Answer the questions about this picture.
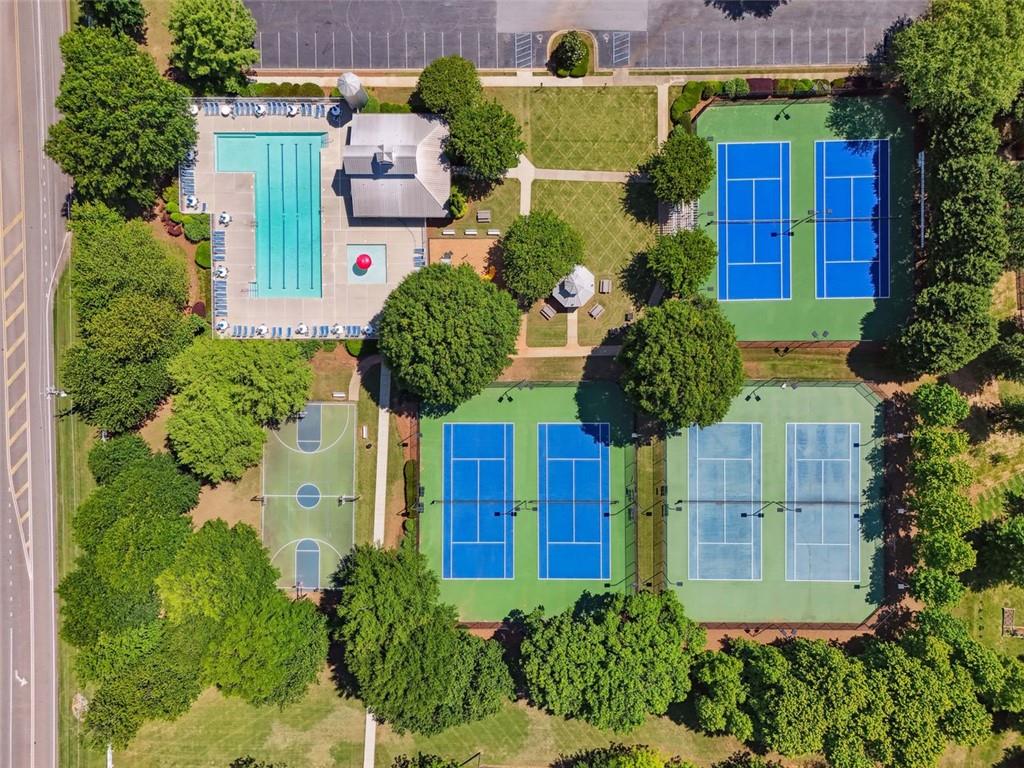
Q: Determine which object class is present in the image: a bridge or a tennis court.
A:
tennis court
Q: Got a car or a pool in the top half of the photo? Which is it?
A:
pool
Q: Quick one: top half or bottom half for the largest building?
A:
top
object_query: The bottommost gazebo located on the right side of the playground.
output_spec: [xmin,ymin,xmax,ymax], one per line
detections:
[553,265,595,307]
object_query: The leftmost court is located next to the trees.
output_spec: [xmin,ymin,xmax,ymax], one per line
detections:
[262,402,357,590]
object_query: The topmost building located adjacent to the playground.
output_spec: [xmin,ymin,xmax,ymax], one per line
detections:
[344,113,450,218]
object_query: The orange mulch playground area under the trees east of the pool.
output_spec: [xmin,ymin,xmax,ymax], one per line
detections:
[429,238,512,291]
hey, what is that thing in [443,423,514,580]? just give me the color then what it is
blue tennis court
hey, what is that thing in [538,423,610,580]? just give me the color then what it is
blue tennis court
